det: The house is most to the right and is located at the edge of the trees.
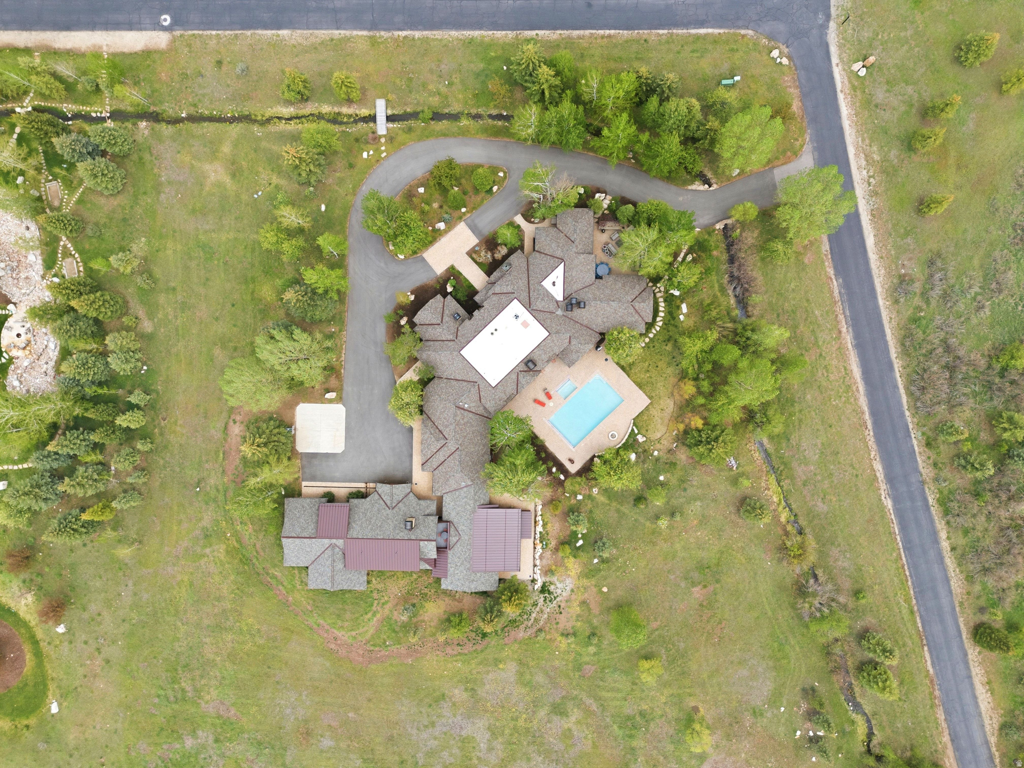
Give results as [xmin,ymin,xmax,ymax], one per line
[412,208,653,592]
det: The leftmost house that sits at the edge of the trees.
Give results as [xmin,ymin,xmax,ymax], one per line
[281,482,448,591]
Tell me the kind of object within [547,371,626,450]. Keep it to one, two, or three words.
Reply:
swimming pool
